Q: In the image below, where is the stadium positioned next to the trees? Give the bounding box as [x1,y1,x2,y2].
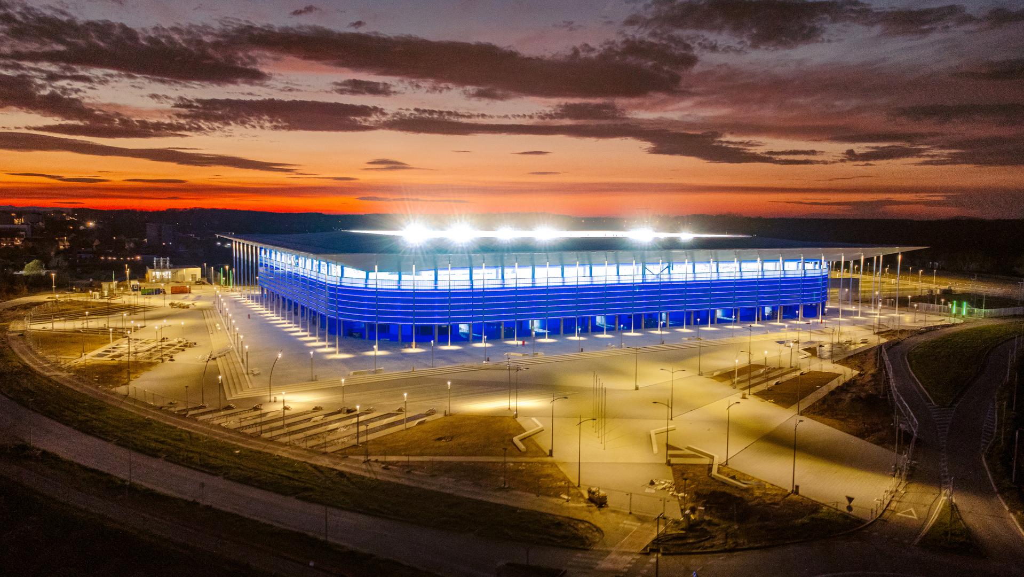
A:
[216,230,928,355]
